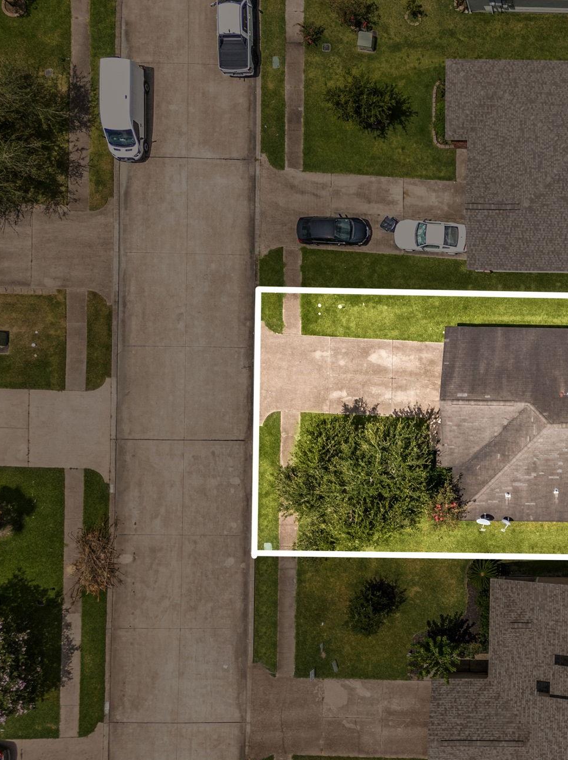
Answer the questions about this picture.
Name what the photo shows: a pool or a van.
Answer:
van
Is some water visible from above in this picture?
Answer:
No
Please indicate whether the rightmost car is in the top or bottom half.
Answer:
top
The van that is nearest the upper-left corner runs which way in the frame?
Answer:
vertically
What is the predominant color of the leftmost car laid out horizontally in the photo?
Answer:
black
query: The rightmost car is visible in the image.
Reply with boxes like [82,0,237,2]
[394,219,464,256]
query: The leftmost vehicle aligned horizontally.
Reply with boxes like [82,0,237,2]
[298,214,374,250]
